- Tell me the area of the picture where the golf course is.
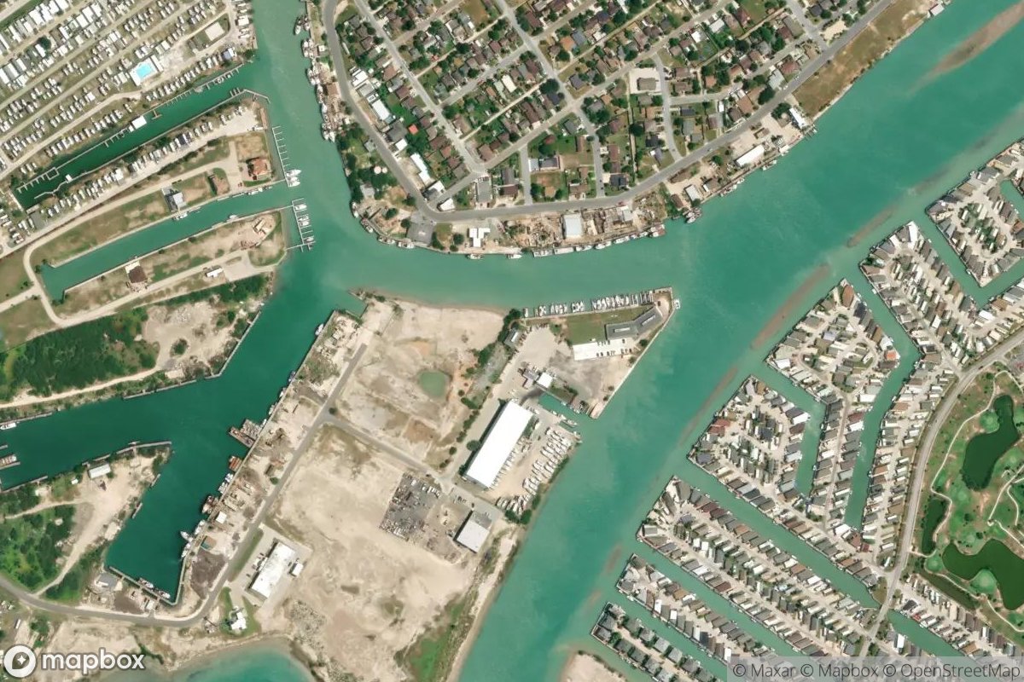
bottom right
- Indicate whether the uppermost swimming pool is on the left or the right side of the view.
left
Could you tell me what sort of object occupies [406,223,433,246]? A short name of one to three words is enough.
building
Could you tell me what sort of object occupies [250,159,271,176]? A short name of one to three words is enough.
house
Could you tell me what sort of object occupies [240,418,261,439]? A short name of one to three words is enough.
ship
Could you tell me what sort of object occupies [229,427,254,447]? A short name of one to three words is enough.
ship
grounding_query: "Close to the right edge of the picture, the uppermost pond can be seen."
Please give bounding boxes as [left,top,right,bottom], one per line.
[962,395,1020,491]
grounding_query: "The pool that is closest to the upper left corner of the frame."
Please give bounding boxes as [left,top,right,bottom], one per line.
[131,58,159,84]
